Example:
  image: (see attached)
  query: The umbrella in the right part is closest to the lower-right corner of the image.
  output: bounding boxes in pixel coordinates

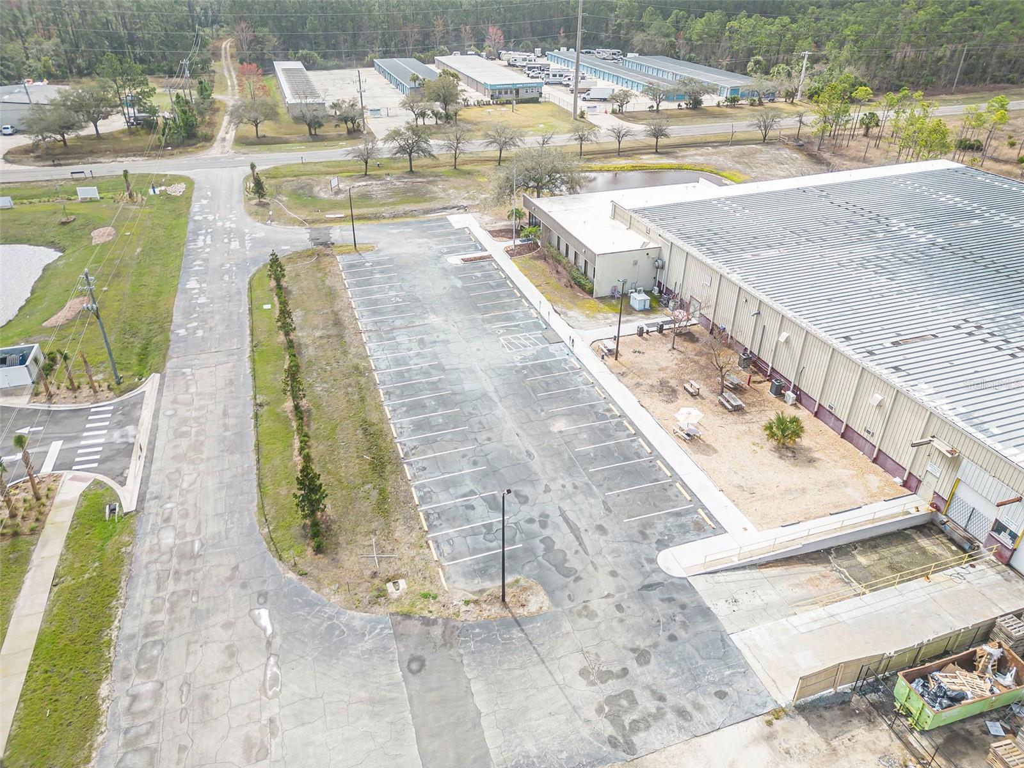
[675,409,707,428]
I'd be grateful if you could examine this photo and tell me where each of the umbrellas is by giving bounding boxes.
[675,409,707,428]
[667,310,694,320]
